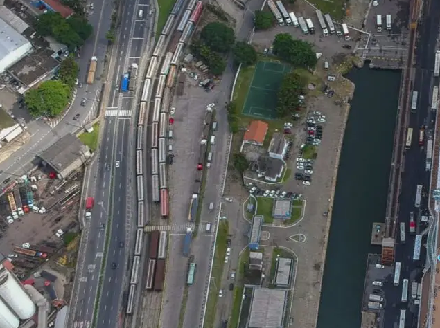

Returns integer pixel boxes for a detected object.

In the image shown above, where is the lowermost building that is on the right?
[249,288,287,328]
